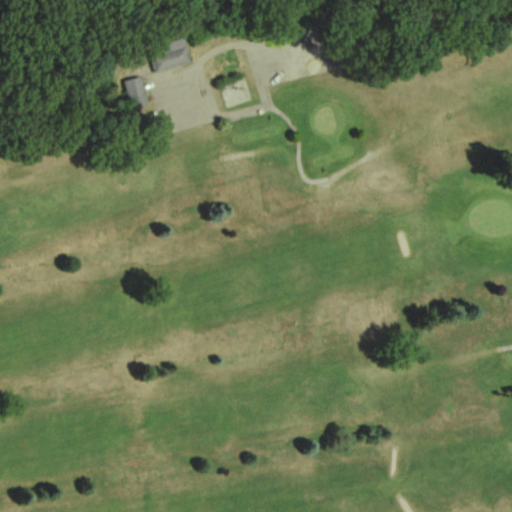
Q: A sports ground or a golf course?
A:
golf course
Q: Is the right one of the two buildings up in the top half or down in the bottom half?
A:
top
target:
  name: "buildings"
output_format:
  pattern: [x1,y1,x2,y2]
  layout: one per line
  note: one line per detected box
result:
[126,78,148,108]
[152,38,192,72]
